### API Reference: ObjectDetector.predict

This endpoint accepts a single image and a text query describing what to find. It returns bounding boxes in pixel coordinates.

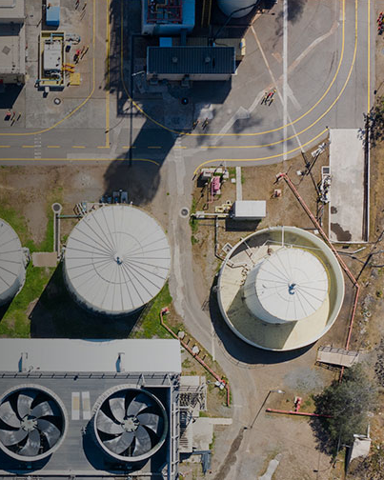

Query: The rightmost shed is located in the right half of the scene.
[233,200,266,219]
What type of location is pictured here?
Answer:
industrial area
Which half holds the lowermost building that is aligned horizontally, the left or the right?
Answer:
left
